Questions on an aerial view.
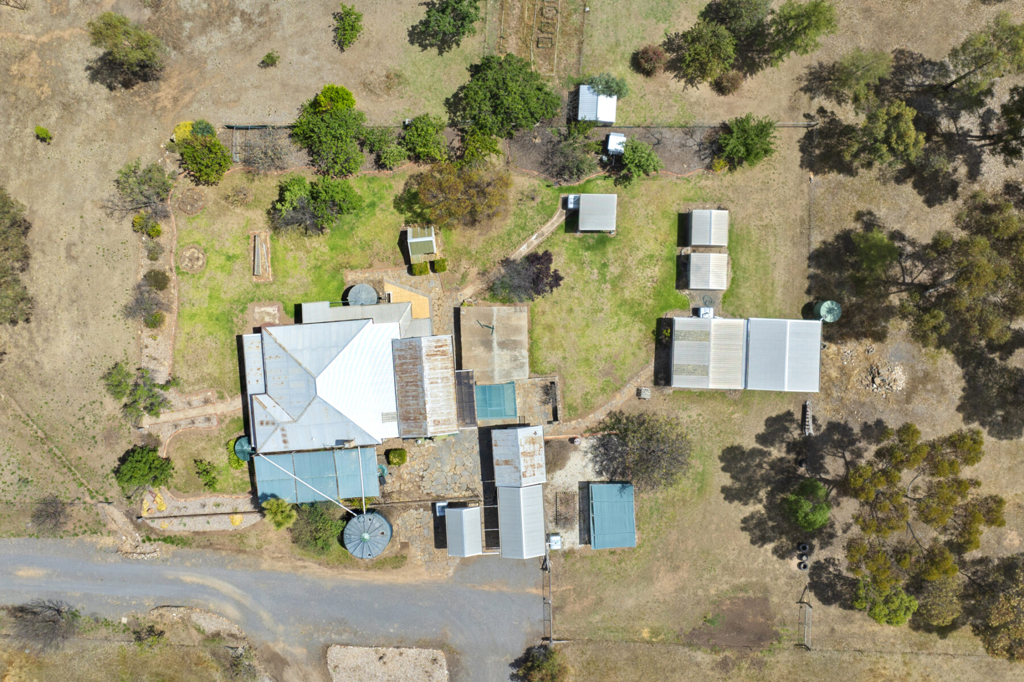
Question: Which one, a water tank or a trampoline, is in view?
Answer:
water tank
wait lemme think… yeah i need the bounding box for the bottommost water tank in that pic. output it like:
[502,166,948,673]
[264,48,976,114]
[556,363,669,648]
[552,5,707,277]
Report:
[343,508,395,561]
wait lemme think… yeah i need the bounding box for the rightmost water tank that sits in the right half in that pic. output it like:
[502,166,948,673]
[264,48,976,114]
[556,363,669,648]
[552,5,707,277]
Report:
[814,300,842,322]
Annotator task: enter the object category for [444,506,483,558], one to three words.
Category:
shed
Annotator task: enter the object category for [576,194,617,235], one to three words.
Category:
shed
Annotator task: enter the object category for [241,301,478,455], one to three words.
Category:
house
